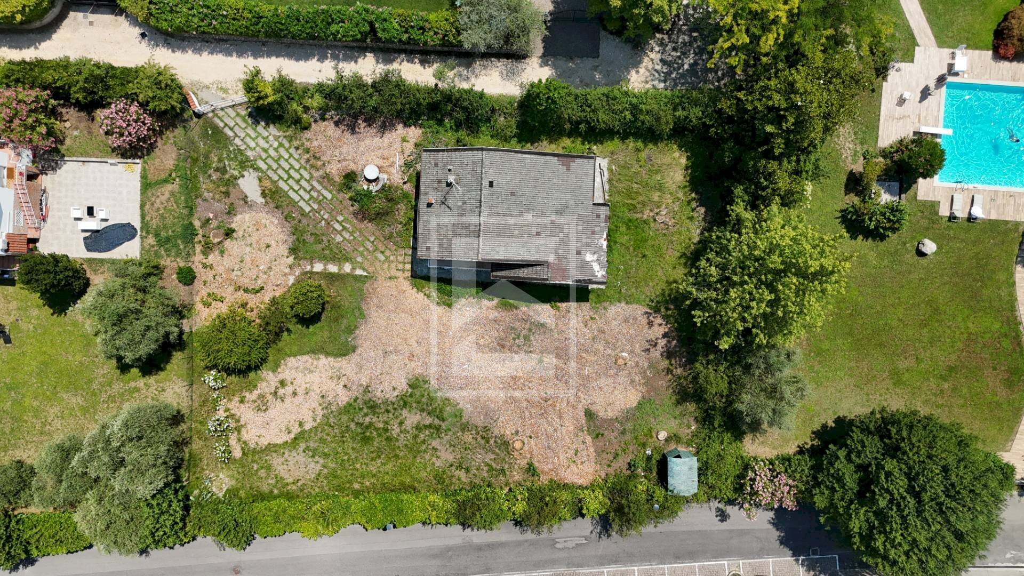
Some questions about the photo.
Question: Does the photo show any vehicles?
No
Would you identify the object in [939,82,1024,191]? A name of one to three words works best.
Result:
swimming pool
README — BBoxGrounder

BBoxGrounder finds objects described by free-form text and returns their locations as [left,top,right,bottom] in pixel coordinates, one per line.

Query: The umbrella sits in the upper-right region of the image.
[930,70,947,99]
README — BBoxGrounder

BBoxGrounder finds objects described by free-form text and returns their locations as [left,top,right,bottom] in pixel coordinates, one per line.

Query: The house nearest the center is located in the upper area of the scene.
[411,147,610,292]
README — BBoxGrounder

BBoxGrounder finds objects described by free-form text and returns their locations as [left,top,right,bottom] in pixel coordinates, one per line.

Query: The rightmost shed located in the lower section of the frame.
[663,445,697,493]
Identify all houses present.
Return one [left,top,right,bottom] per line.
[0,140,50,270]
[411,147,610,292]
